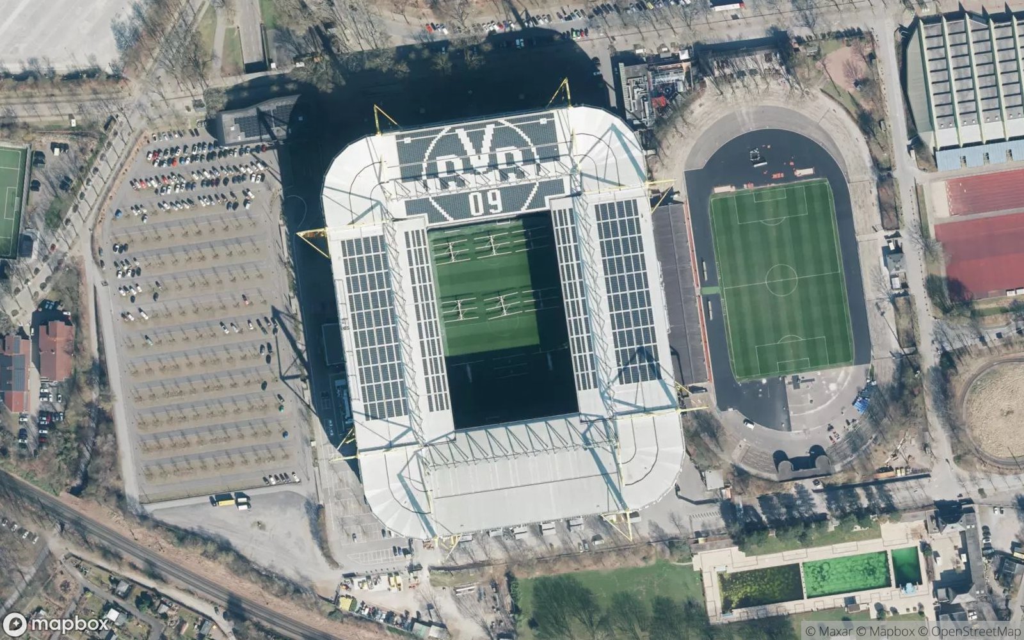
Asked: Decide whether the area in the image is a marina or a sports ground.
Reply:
sports ground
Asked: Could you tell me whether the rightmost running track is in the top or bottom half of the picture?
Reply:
top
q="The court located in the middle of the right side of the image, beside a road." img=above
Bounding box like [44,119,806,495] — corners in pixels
[935,212,1024,299]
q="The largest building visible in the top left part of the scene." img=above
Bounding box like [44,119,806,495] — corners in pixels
[221,95,304,150]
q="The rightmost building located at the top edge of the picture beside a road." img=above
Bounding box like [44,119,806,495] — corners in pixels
[907,11,1024,152]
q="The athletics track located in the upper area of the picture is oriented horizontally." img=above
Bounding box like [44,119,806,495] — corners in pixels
[946,169,1024,216]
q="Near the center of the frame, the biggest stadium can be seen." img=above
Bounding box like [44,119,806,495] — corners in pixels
[297,78,709,566]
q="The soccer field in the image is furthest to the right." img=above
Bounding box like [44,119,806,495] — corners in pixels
[708,179,856,383]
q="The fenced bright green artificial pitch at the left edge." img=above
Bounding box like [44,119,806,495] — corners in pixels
[0,142,30,262]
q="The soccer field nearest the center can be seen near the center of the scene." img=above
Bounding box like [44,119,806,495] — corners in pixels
[428,210,578,430]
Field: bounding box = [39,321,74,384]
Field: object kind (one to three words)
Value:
house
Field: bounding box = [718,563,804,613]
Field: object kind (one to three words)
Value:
swimming pool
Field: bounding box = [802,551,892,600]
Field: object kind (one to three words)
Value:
swimming pool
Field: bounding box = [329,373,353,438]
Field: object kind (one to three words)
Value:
building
